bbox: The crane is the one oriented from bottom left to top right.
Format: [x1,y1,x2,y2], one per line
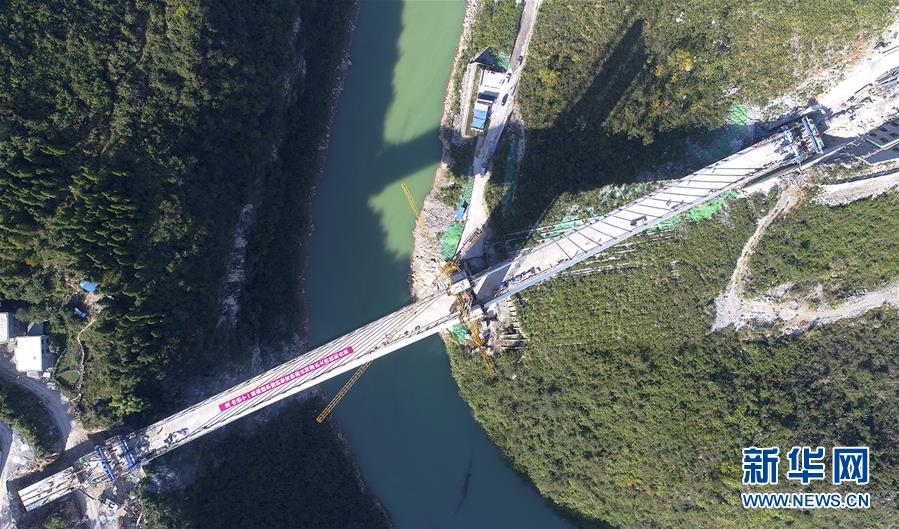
[316,237,484,421]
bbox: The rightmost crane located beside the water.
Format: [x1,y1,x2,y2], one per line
[401,182,499,379]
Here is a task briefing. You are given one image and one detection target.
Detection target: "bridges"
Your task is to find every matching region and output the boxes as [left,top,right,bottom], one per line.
[119,125,799,468]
